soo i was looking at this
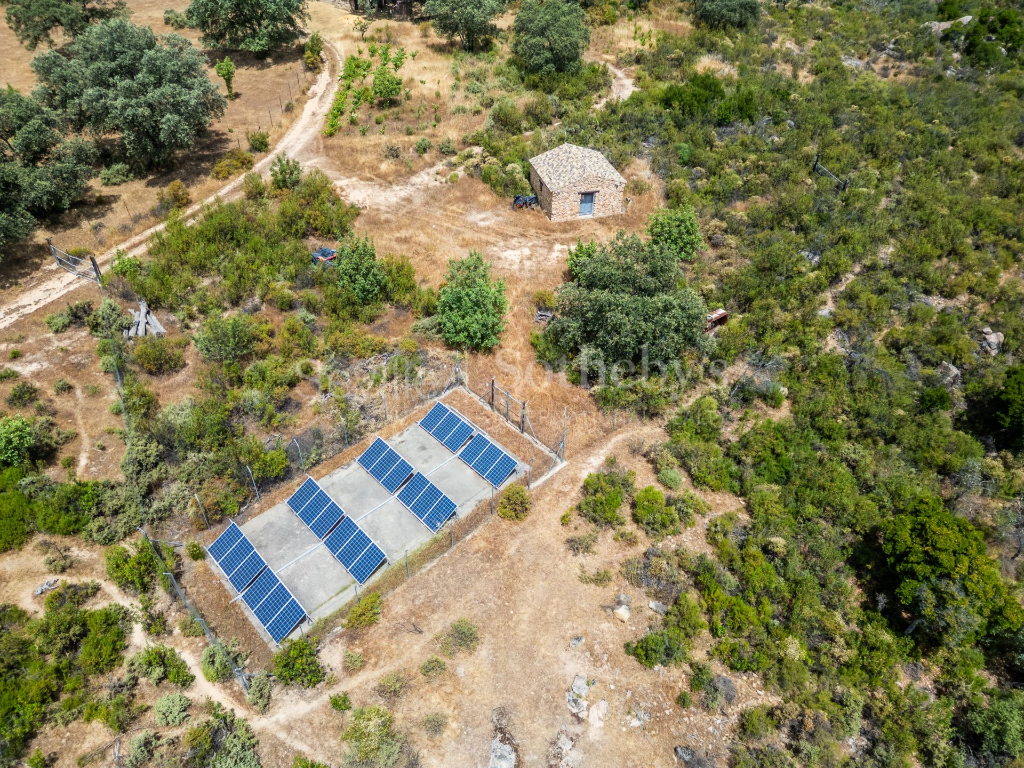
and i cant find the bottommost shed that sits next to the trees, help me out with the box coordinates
[528,126,628,222]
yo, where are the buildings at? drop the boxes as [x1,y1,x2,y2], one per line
[379,0,414,21]
[528,126,628,222]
